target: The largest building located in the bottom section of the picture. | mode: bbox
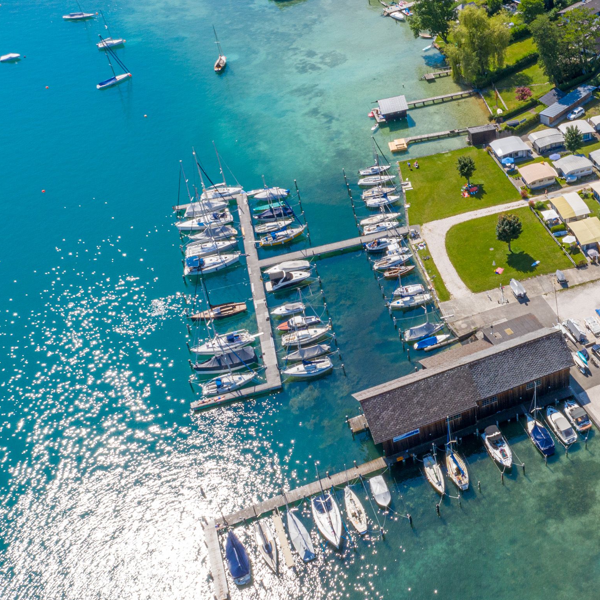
[353,323,575,457]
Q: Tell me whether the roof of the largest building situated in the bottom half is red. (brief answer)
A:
No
